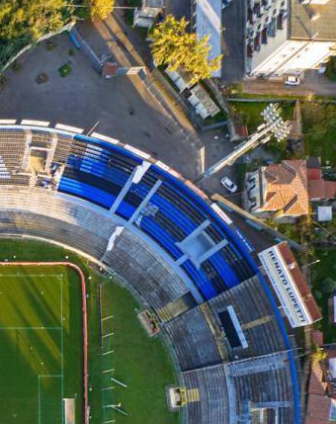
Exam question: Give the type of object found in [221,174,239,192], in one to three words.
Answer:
car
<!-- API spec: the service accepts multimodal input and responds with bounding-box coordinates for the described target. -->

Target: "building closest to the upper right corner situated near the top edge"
[247,0,336,78]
